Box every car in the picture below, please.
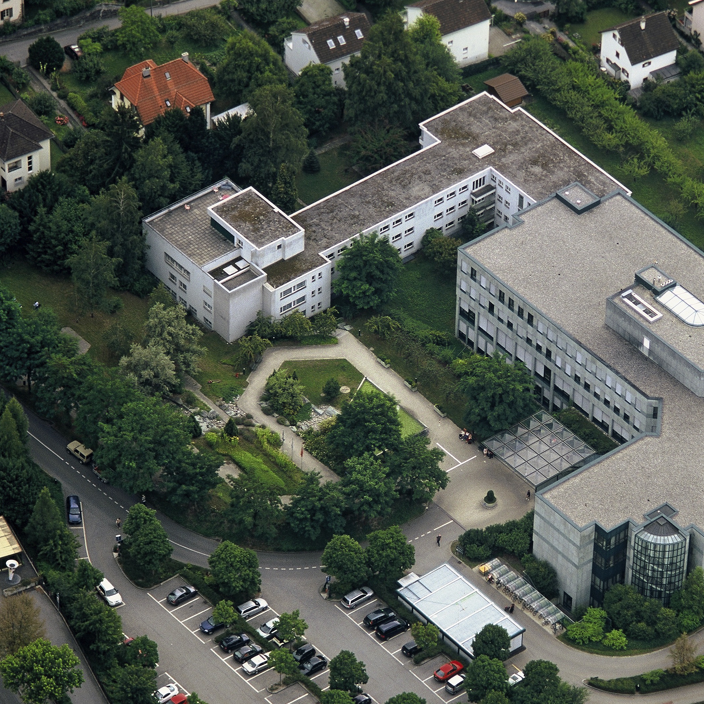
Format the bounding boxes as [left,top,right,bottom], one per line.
[218,630,253,654]
[66,439,96,461]
[254,611,280,638]
[442,674,472,695]
[290,640,318,664]
[235,597,270,619]
[376,619,410,641]
[272,633,302,649]
[152,682,183,704]
[339,587,375,607]
[432,661,465,682]
[362,608,398,629]
[63,44,85,60]
[240,650,272,674]
[97,576,121,605]
[231,641,267,663]
[297,655,330,677]
[398,639,428,658]
[66,496,82,523]
[164,584,199,605]
[199,616,231,633]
